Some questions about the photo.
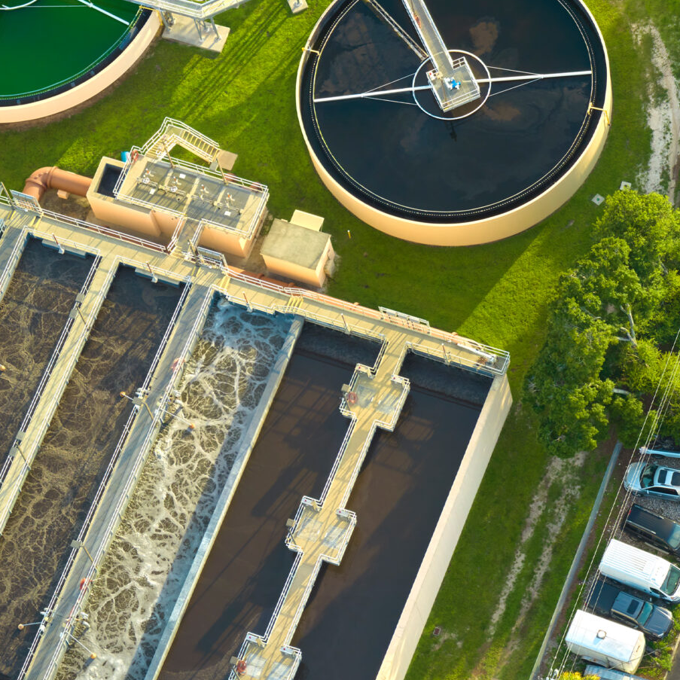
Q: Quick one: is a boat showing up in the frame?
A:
No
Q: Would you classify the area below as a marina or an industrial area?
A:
industrial area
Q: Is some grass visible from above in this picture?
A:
Yes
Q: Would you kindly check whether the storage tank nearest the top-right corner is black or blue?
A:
black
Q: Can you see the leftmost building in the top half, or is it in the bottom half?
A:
top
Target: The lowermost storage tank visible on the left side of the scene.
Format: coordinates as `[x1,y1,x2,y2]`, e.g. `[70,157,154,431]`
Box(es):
[87,163,162,237]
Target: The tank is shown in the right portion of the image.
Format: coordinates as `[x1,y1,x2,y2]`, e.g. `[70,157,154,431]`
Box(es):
[295,0,613,245]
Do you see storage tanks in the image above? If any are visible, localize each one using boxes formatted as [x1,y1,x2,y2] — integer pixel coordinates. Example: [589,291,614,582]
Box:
[87,163,162,237]
[295,0,613,245]
[0,0,167,125]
